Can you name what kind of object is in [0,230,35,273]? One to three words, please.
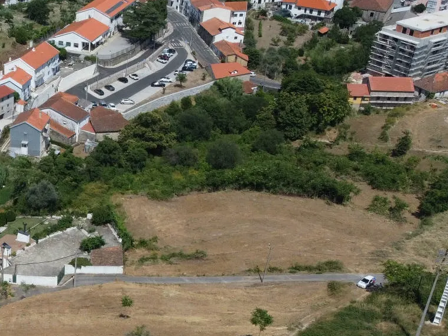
building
